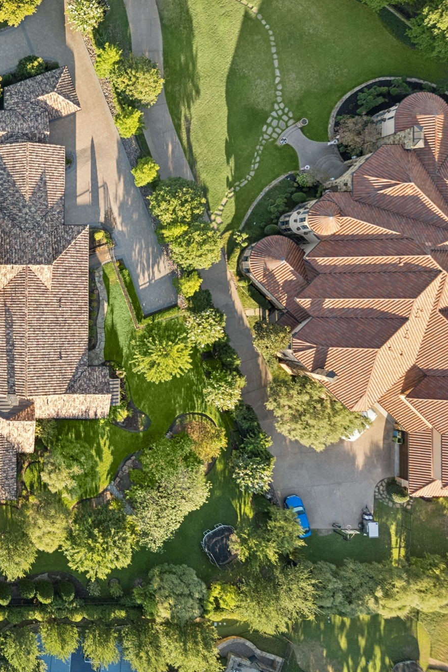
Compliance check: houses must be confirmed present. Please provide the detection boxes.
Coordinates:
[0,64,121,501]
[239,92,448,498]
